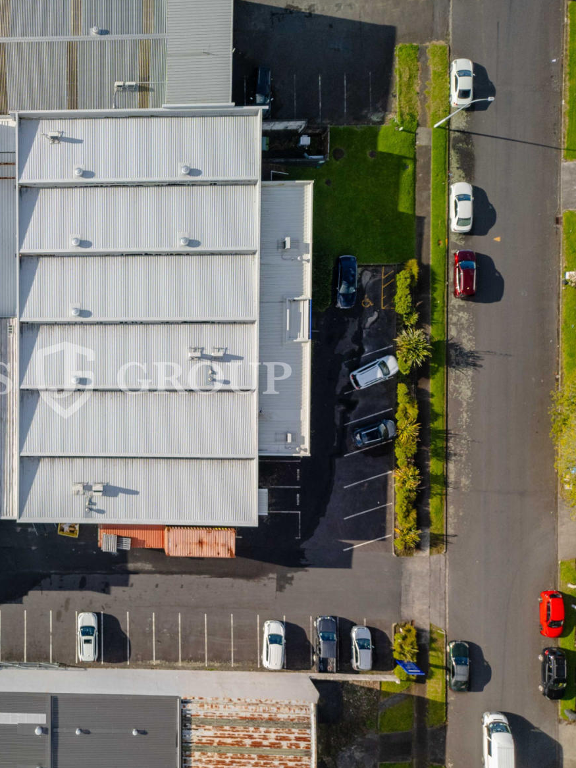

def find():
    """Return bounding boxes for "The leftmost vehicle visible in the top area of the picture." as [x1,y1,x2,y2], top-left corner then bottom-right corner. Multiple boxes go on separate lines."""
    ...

[252,64,277,118]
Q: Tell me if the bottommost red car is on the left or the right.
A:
right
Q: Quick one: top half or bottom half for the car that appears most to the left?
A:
bottom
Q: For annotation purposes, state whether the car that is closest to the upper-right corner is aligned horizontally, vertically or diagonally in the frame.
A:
vertically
